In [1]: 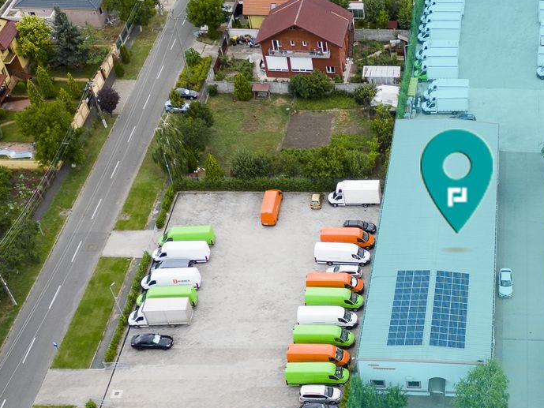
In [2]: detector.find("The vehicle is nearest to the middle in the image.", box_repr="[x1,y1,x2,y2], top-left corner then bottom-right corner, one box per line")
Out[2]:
[261,192,283,227]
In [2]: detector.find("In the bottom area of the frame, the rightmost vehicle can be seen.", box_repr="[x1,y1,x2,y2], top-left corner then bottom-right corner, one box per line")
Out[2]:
[497,268,514,296]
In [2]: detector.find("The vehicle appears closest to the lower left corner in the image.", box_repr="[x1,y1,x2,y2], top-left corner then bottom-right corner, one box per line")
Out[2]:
[131,334,174,351]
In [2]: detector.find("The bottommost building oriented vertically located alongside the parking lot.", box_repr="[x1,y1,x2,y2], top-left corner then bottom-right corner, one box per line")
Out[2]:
[357,116,500,392]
